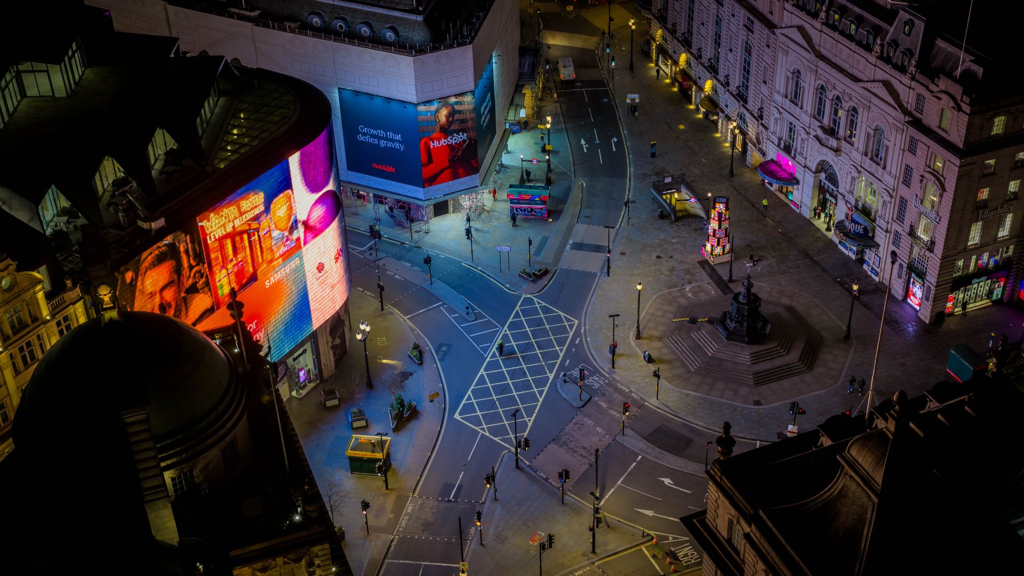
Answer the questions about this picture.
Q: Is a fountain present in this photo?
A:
Yes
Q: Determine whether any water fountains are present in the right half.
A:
Yes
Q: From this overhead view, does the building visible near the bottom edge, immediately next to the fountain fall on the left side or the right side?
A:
right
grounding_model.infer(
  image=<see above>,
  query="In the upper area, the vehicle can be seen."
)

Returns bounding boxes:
[559,53,574,77]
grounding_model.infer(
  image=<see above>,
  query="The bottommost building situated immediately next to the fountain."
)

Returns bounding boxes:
[678,348,1024,576]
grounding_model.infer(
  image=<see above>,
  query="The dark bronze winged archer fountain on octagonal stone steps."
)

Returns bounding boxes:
[663,255,823,384]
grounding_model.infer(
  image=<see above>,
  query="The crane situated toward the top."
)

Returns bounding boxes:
[103,172,164,229]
